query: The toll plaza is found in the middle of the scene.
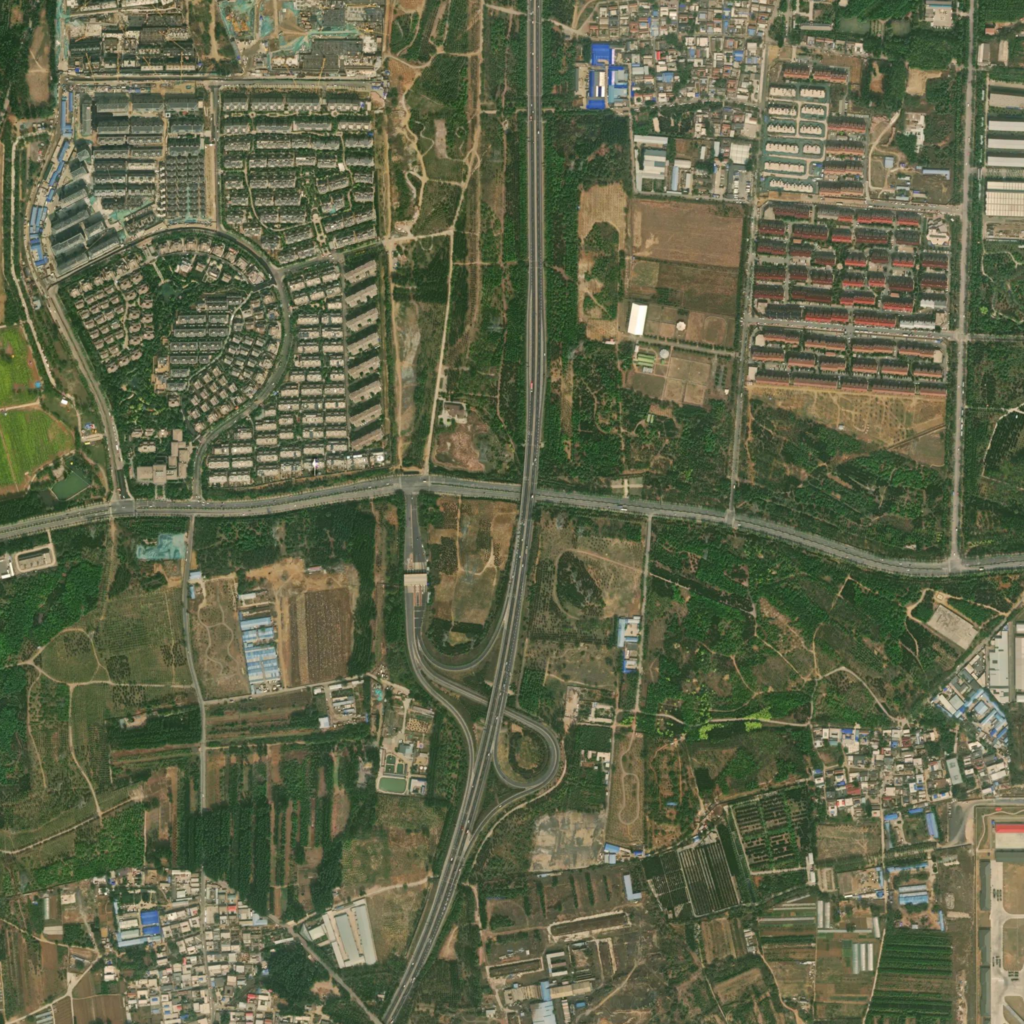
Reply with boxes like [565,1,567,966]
[404,570,427,599]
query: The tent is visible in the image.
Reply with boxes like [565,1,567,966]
[628,303,647,335]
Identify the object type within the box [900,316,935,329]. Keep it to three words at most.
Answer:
building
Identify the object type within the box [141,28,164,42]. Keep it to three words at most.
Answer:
building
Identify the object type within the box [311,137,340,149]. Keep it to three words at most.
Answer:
house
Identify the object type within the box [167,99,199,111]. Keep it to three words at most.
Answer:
house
